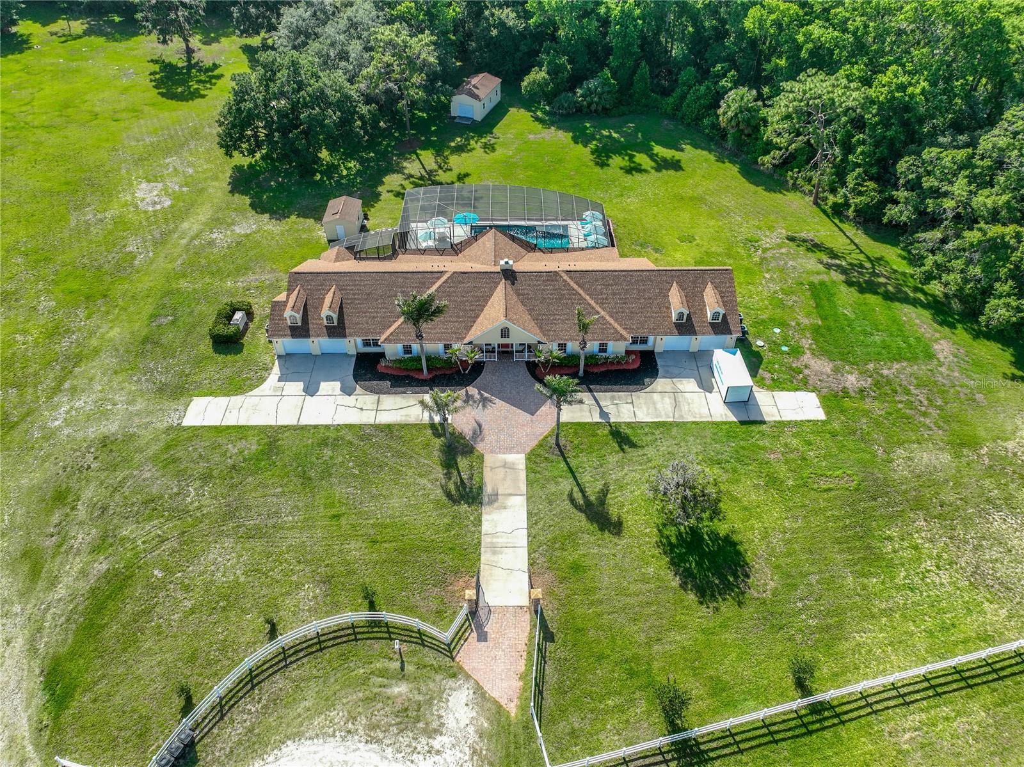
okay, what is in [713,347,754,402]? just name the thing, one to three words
shipping container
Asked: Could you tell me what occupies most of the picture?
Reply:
grass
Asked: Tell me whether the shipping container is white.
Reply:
Yes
